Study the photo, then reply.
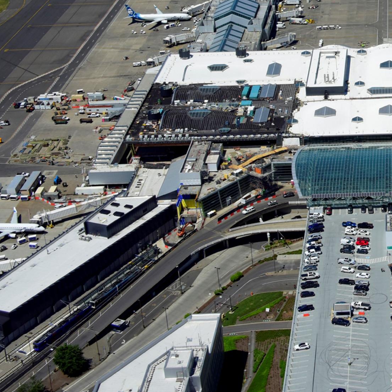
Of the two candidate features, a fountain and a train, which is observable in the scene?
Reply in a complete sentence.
Of the two, only a train appears.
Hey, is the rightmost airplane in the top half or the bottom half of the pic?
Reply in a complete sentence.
The top half of the photo is where the rightmost airplane is.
